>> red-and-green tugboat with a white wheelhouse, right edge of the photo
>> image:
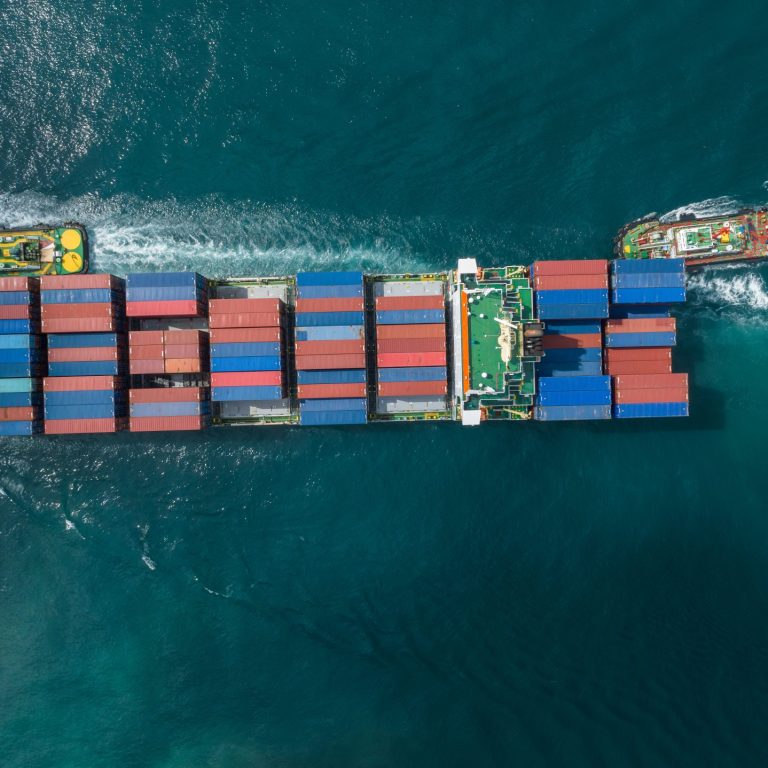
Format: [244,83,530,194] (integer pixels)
[613,201,768,266]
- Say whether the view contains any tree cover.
No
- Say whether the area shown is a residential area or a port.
port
